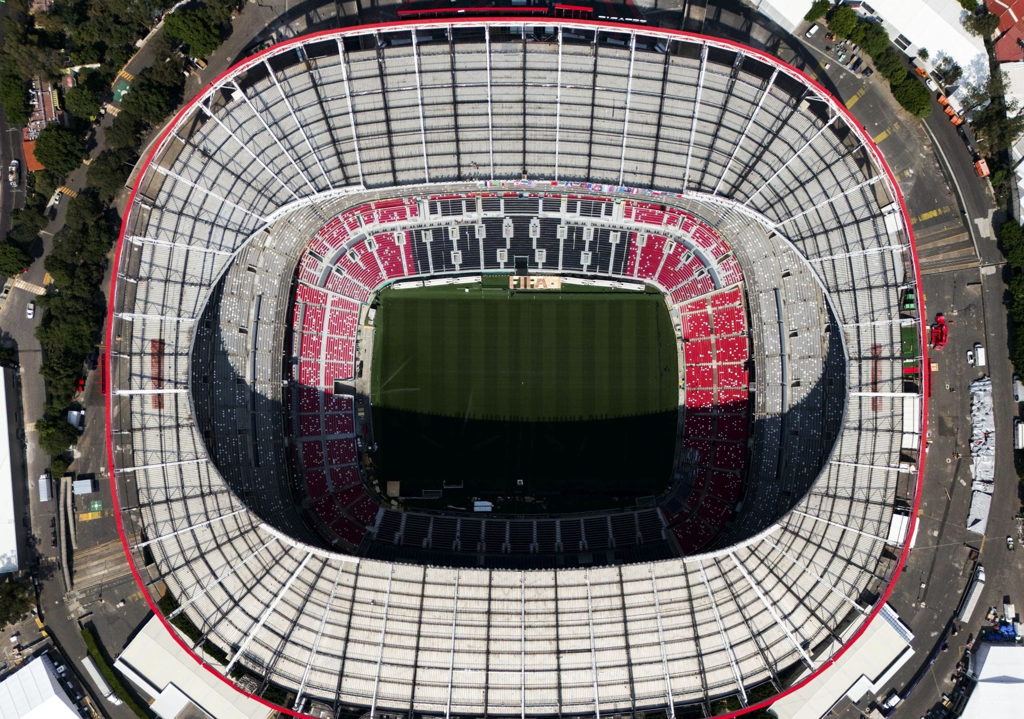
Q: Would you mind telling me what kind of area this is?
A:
sports ground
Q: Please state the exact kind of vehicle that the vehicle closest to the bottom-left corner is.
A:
truck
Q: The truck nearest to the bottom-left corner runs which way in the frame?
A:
diagonally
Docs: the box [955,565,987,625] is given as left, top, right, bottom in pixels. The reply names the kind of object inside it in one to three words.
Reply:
truck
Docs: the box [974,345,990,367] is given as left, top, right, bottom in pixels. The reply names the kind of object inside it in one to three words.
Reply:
vehicle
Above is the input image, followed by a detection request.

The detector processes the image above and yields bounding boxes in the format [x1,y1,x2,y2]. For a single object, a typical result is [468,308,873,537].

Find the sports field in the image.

[382,299,659,484]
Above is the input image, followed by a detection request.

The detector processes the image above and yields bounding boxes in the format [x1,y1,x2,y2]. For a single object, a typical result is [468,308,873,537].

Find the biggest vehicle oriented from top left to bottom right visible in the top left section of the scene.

[187,54,204,69]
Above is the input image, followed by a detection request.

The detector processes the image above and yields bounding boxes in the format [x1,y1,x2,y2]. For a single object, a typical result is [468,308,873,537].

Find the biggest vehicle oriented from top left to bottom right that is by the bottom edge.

[74,656,122,707]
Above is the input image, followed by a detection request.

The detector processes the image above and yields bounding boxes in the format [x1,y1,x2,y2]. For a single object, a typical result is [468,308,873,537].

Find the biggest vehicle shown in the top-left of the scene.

[8,162,20,189]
